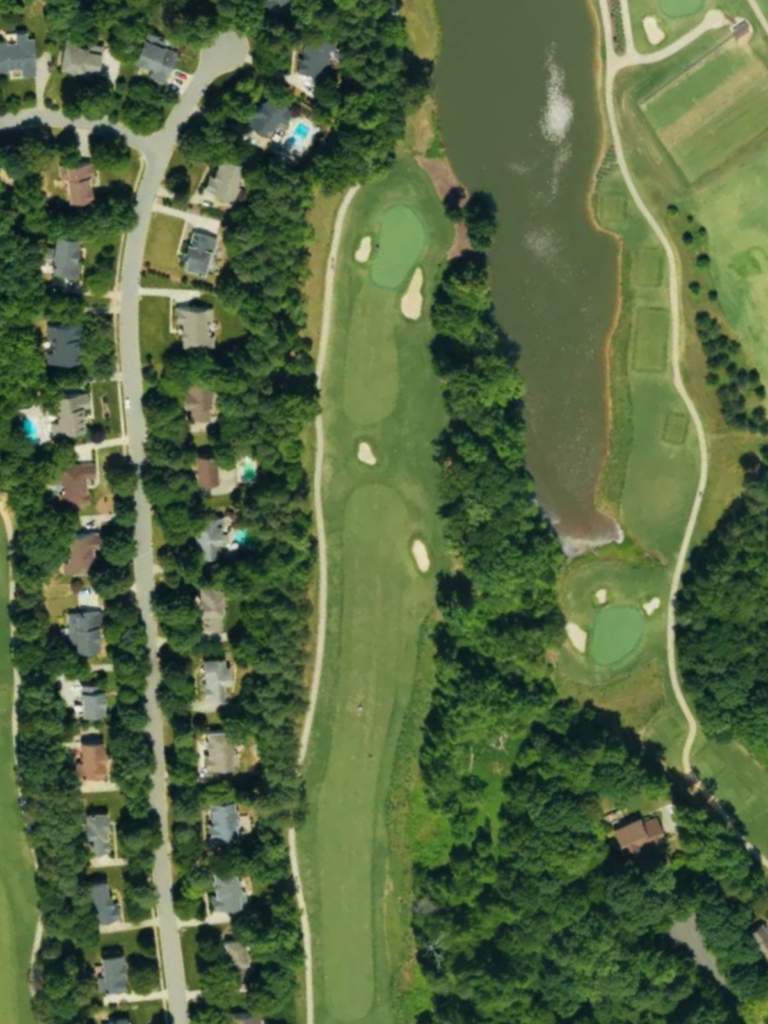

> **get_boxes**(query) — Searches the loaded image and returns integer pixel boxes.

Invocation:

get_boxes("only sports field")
[639,40,768,183]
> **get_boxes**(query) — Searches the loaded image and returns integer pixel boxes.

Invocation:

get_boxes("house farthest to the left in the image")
[0,36,35,78]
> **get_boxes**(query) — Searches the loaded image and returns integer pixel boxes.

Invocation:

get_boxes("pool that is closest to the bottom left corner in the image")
[233,527,252,547]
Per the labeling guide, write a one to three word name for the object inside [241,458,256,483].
swimming pool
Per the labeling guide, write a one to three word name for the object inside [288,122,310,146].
swimming pool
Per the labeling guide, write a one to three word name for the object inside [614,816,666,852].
house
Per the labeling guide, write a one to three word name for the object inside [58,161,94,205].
house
